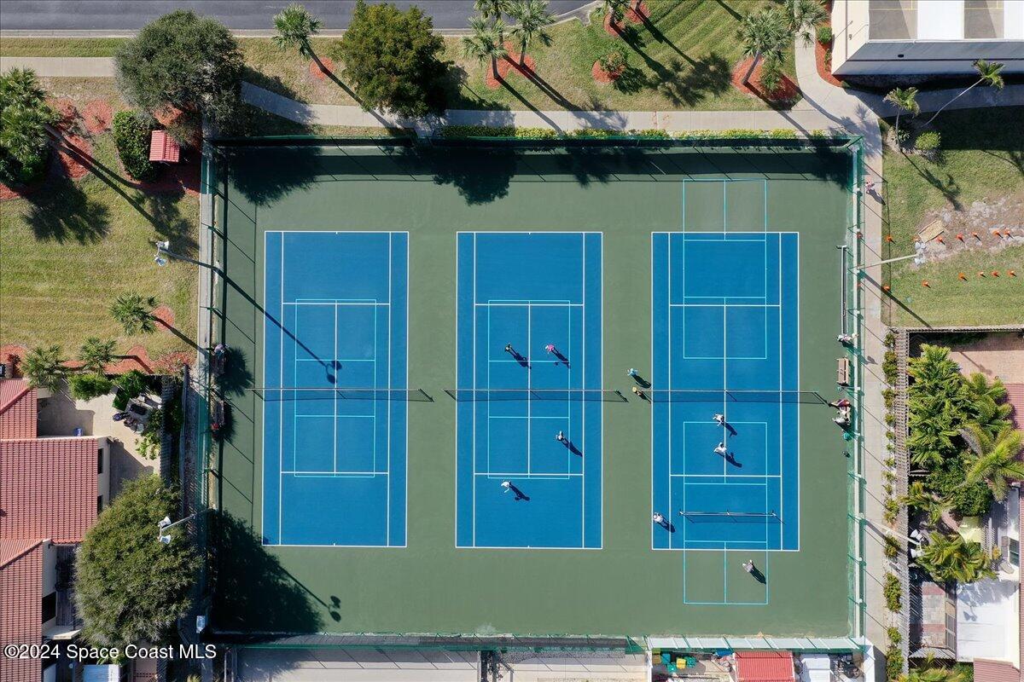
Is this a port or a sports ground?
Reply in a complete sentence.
It's a sports ground.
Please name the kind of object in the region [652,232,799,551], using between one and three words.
tennis court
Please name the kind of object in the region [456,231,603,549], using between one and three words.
tennis court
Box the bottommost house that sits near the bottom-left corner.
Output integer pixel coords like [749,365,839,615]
[0,544,79,682]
